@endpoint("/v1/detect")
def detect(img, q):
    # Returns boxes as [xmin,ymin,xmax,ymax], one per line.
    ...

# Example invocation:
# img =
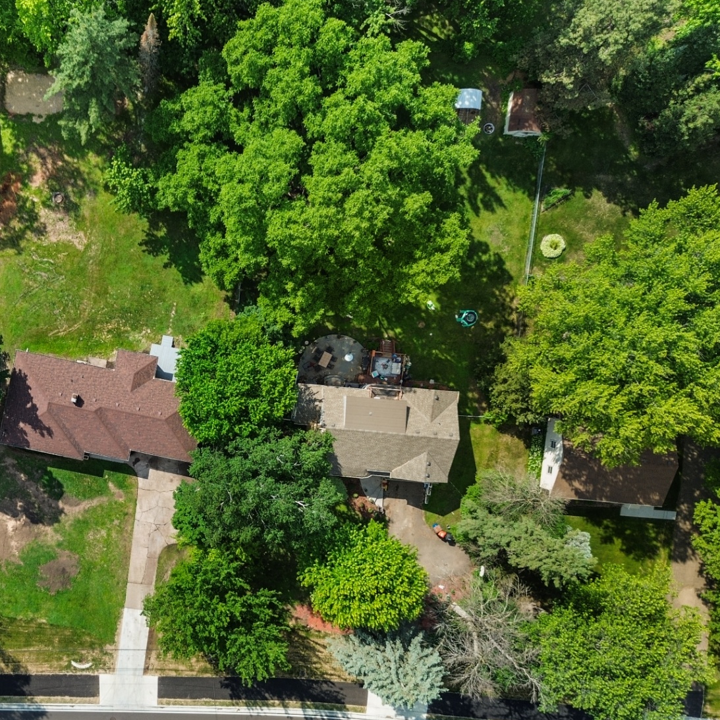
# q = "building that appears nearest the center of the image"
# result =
[291,383,460,484]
